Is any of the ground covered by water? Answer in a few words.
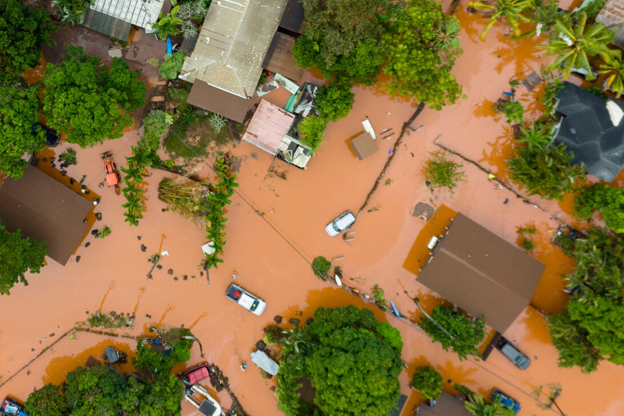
Yes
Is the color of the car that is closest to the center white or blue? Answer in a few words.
white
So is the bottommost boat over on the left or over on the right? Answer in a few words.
left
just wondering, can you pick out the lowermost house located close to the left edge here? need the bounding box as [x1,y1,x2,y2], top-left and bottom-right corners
[0,164,93,265]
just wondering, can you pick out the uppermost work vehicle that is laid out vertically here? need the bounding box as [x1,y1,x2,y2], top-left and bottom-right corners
[98,145,123,196]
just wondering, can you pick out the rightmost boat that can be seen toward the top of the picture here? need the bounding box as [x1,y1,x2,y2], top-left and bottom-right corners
[363,118,376,139]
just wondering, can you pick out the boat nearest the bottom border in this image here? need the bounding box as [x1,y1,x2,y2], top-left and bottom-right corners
[181,384,223,416]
